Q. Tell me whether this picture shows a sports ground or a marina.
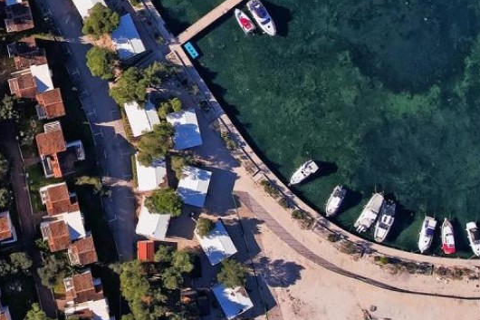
marina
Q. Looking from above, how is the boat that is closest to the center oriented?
on a diagonal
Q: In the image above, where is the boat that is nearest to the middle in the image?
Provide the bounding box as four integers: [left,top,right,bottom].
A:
[289,157,319,186]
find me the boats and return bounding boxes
[418,214,438,254]
[465,218,480,256]
[376,198,398,243]
[325,182,346,217]
[441,219,456,256]
[289,157,319,186]
[235,10,255,34]
[353,192,383,232]
[245,0,280,41]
